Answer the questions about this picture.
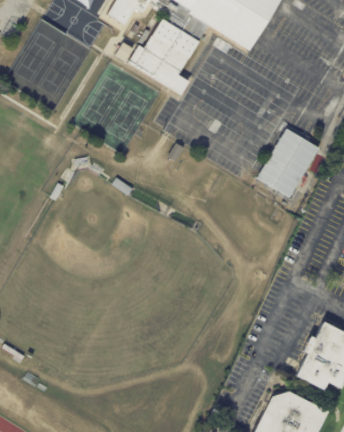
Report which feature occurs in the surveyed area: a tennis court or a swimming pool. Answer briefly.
tennis court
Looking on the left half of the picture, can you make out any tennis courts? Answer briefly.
Yes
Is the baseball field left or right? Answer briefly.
left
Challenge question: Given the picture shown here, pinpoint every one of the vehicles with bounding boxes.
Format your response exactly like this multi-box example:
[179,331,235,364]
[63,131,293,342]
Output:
[286,358,299,368]
[284,256,294,264]
[256,314,266,322]
[252,324,262,332]
[248,334,258,342]
[290,248,299,254]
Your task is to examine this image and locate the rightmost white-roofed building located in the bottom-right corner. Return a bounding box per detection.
[294,322,344,390]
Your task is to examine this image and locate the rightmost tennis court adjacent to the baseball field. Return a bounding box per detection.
[74,59,160,151]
